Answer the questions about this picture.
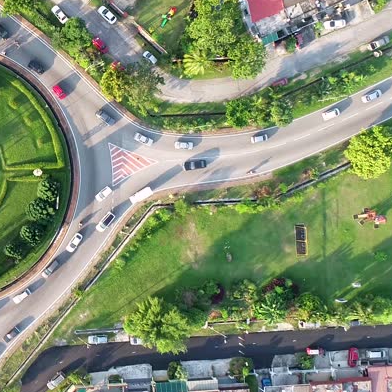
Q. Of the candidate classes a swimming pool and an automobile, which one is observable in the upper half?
automobile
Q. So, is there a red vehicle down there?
Yes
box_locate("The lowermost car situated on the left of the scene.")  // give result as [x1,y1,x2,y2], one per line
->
[45,371,66,389]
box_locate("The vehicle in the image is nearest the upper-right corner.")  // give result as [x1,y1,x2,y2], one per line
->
[364,36,388,52]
